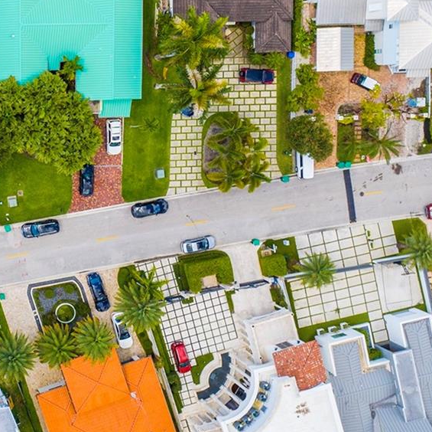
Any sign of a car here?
Yes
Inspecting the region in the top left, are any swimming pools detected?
No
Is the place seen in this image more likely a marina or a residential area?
residential area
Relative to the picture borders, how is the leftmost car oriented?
from side to side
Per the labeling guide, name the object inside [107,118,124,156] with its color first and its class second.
white car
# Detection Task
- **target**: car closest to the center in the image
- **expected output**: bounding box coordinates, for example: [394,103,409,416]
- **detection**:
[181,236,218,255]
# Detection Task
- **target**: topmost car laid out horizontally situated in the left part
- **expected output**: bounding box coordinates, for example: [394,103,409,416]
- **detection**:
[130,200,171,219]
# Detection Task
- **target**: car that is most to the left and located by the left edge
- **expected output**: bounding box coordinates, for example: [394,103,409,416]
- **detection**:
[22,220,61,241]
